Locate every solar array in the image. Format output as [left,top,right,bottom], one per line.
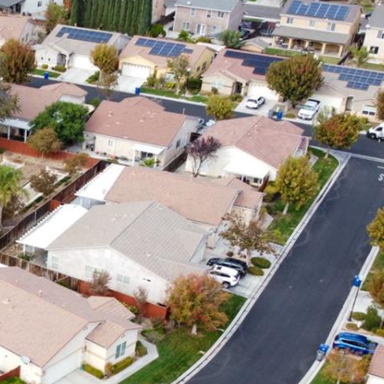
[134,38,189,55]
[224,50,281,77]
[323,64,384,83]
[285,0,351,18]
[58,26,113,43]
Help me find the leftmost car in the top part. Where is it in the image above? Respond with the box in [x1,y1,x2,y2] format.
[247,97,264,111]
